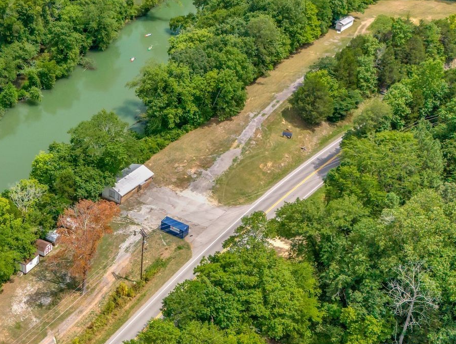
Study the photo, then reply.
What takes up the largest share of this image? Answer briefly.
trees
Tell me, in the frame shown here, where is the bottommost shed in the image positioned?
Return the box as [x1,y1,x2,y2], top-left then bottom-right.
[13,248,40,273]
